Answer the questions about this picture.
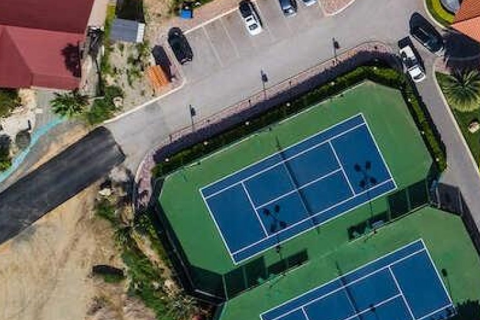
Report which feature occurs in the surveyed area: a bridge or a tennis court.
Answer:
tennis court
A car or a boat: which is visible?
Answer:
car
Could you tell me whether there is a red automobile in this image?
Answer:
No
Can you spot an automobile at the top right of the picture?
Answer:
Yes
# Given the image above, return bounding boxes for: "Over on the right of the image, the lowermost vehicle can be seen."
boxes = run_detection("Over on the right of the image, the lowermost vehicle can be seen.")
[399,43,426,83]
